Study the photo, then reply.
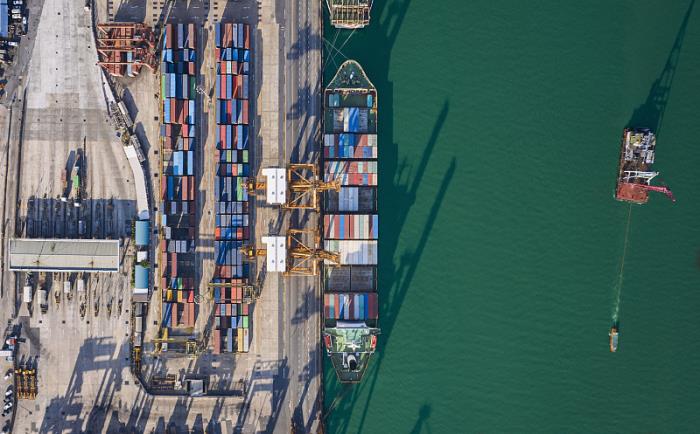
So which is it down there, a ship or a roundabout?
ship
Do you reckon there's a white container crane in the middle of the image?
Yes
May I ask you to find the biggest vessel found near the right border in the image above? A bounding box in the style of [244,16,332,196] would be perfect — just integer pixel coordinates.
[615,128,673,204]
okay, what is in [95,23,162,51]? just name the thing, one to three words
container crane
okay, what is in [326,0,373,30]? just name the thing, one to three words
ship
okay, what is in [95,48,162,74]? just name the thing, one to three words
container crane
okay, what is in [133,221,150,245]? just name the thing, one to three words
shed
